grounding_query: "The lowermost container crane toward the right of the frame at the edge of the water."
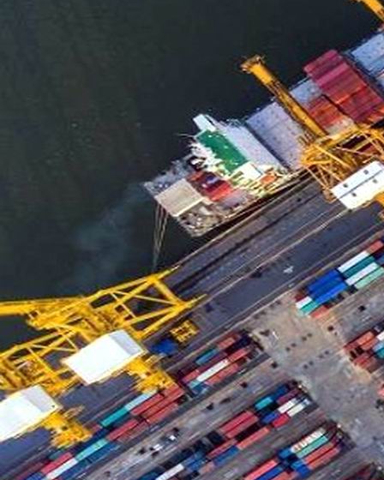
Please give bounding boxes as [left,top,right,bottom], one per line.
[231,60,384,229]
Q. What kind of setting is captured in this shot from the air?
port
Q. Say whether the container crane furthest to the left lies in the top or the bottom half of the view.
bottom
